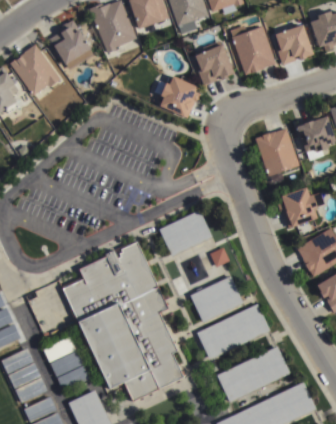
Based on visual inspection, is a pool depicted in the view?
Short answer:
Yes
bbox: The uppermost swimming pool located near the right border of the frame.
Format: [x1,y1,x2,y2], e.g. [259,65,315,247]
[311,158,332,173]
